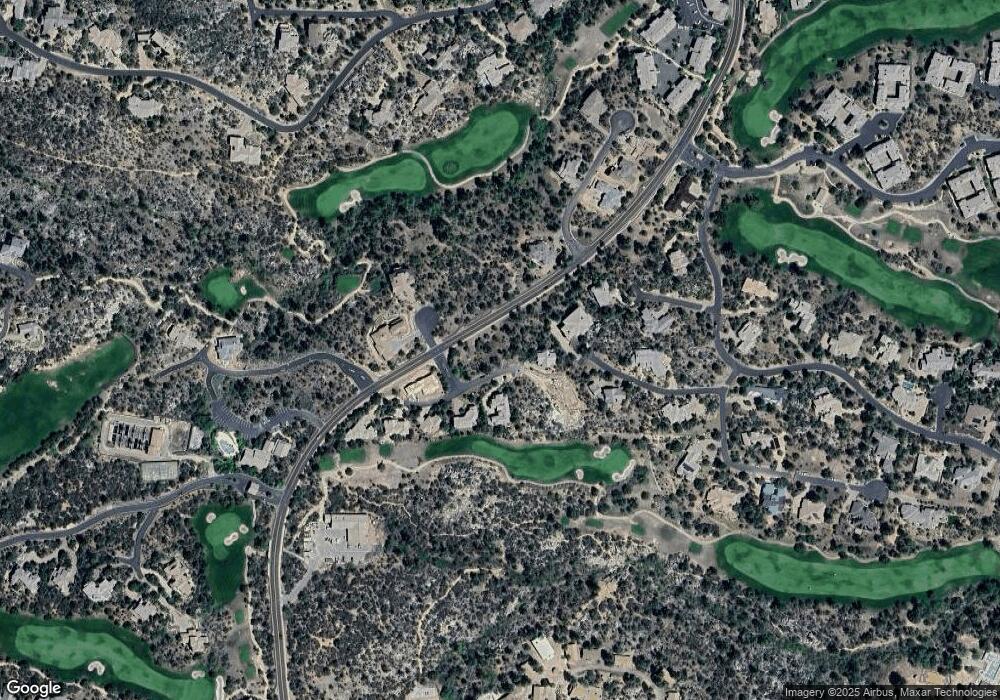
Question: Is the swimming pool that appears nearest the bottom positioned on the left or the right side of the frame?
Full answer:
The swimming pool that appears nearest the bottom appears in the left half of the scene.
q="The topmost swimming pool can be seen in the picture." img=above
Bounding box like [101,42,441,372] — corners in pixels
[898,377,918,391]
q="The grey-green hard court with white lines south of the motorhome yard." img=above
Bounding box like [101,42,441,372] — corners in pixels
[142,461,178,481]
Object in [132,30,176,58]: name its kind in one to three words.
house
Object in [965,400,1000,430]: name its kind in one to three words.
house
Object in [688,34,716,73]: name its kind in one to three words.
building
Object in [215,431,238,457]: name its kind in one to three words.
swimming pool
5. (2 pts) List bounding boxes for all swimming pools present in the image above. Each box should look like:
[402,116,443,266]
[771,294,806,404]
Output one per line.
[215,431,238,457]
[898,377,918,391]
